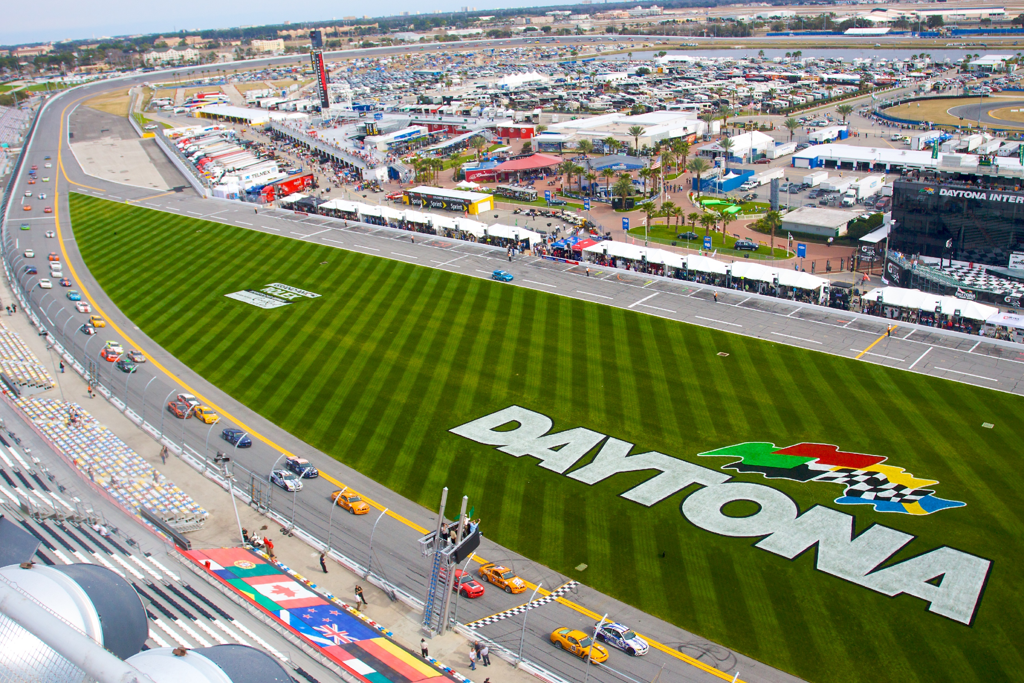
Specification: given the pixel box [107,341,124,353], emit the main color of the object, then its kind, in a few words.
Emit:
white vehicle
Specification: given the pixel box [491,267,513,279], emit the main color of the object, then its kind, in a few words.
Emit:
blue vehicle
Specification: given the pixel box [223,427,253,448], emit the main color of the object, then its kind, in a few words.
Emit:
blue car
